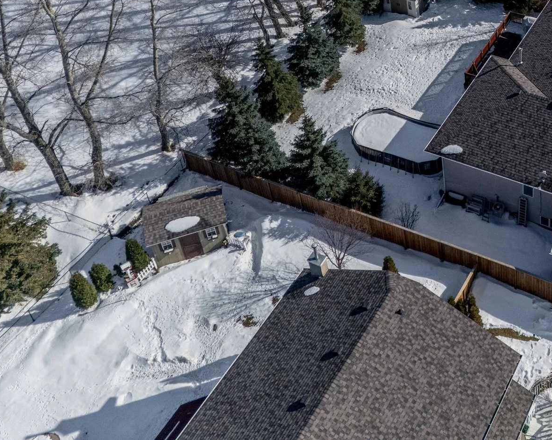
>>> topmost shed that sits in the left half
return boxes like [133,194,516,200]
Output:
[139,183,229,267]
